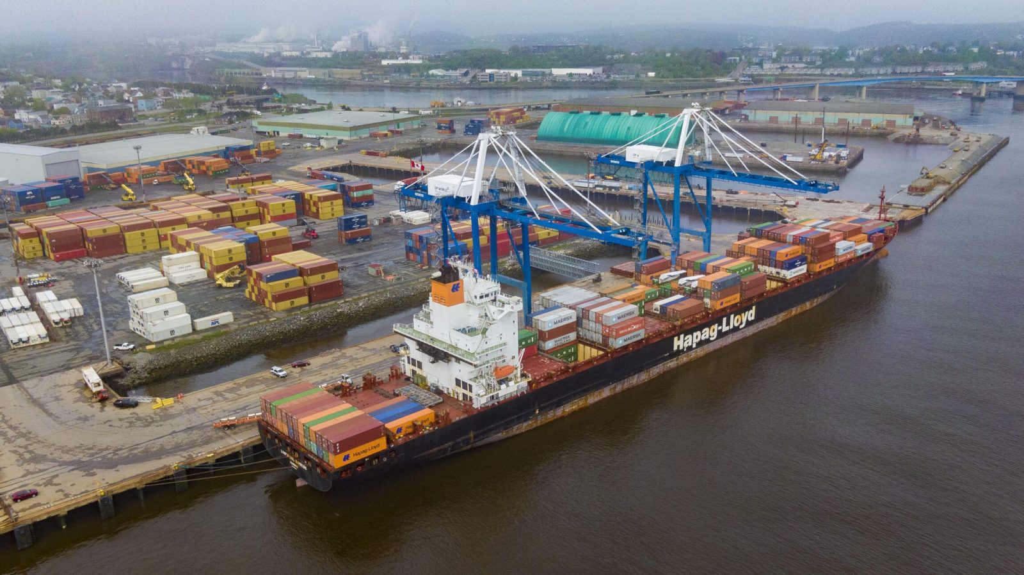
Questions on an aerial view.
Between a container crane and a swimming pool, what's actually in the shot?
container crane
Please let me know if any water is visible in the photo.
Yes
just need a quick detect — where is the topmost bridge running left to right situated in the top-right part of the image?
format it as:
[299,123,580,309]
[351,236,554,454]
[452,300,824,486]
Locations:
[486,66,1024,114]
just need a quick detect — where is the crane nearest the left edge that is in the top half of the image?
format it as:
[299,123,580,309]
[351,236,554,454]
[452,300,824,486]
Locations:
[397,125,663,306]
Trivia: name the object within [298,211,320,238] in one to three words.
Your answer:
work vehicle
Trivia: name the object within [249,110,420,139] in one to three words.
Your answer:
building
